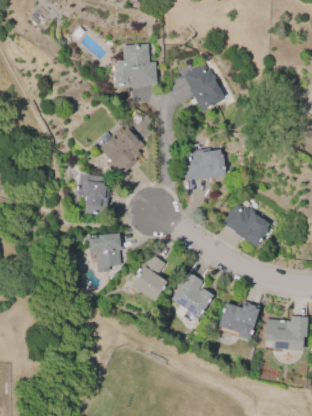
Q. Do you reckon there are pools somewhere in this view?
Yes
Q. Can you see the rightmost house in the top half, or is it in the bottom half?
bottom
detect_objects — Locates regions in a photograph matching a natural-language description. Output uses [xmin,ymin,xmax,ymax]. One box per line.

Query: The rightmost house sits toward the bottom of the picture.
[266,316,310,351]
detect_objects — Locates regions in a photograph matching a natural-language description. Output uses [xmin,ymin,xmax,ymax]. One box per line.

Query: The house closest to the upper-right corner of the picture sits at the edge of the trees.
[184,64,228,112]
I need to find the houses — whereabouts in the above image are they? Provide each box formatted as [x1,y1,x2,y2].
[223,203,271,248]
[218,300,263,338]
[188,147,227,182]
[130,257,169,303]
[184,64,228,112]
[102,128,144,170]
[114,42,158,89]
[89,234,122,272]
[76,173,109,214]
[266,316,310,351]
[174,272,216,317]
